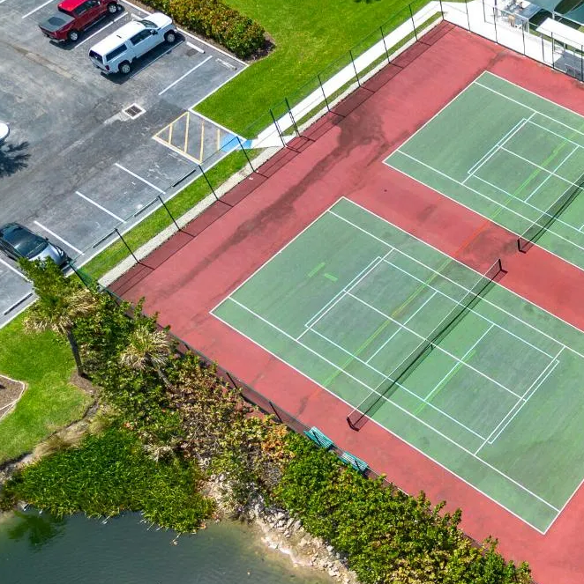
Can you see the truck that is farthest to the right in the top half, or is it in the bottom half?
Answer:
top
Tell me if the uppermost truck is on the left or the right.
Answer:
left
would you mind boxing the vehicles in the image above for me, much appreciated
[34,0,118,45]
[0,221,67,275]
[87,16,174,78]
